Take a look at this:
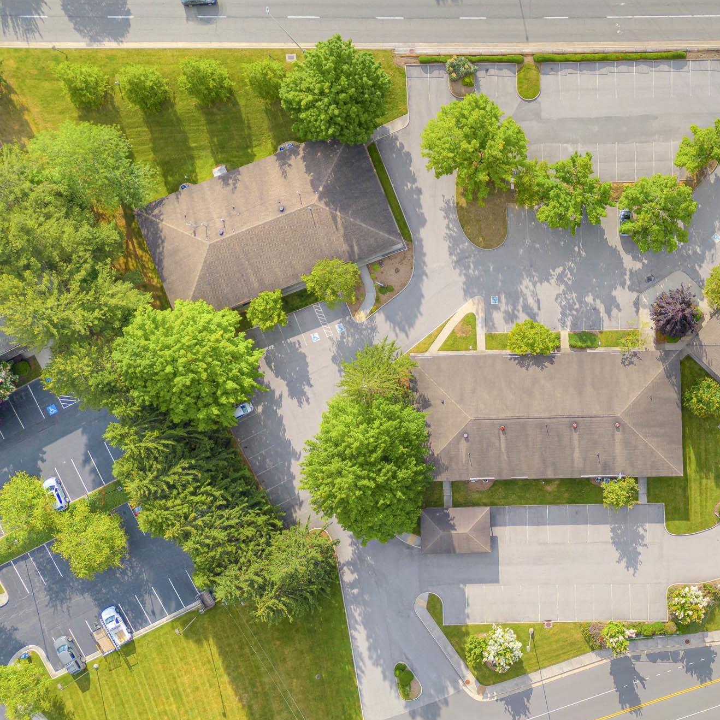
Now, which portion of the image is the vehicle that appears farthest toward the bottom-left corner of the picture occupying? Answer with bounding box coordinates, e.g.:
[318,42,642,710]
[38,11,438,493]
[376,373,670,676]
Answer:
[56,634,84,675]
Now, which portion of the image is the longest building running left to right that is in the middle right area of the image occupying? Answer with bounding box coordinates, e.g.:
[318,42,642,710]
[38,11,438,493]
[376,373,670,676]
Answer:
[410,350,684,482]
